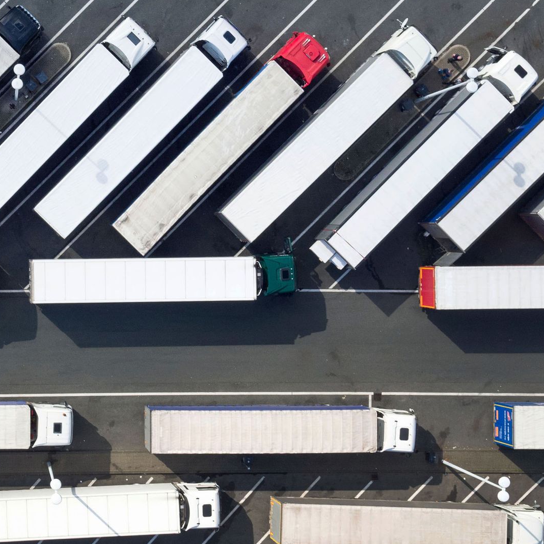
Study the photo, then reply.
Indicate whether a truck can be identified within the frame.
Yes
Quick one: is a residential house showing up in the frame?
No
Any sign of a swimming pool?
No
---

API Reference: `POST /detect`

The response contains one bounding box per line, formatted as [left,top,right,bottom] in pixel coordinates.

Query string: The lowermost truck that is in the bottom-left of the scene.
[0,479,221,542]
